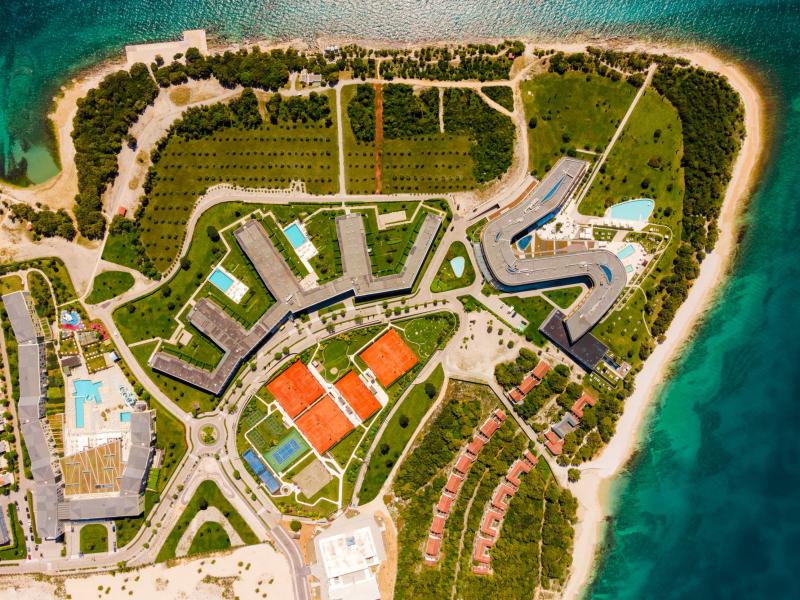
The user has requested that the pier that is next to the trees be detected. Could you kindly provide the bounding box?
[125,28,207,64]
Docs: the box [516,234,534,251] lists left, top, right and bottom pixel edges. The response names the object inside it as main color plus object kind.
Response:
blue swimming pool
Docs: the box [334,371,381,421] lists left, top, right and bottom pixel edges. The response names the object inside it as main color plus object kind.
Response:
orange tennis court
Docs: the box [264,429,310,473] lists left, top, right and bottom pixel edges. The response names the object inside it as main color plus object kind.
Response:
green tennis court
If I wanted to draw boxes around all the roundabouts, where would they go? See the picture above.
[191,417,226,452]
